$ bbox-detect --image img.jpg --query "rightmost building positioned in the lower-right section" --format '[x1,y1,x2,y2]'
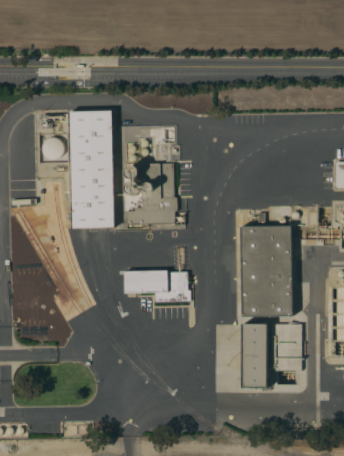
[274,324,306,370]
